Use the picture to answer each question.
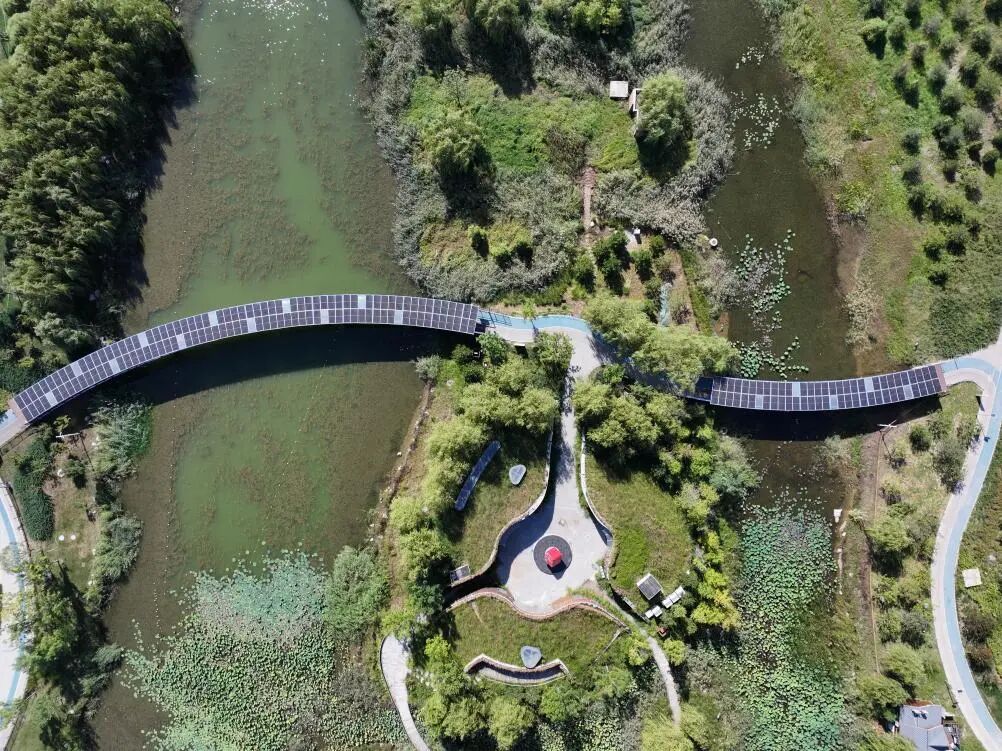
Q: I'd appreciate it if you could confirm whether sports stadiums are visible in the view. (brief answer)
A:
No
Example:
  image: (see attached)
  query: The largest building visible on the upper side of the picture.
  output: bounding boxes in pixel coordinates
[607,81,628,105]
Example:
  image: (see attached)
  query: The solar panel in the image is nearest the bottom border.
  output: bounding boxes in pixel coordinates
[638,575,660,597]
